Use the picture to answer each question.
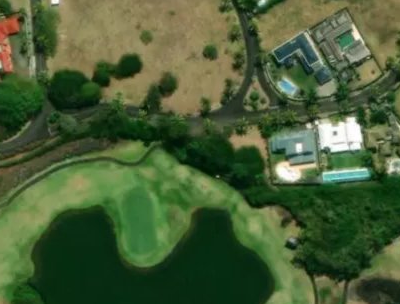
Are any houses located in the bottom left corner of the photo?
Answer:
No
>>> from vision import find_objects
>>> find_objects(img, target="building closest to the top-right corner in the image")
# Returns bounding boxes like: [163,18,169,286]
[313,10,366,73]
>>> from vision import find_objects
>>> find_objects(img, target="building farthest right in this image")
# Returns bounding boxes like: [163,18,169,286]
[364,126,400,157]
